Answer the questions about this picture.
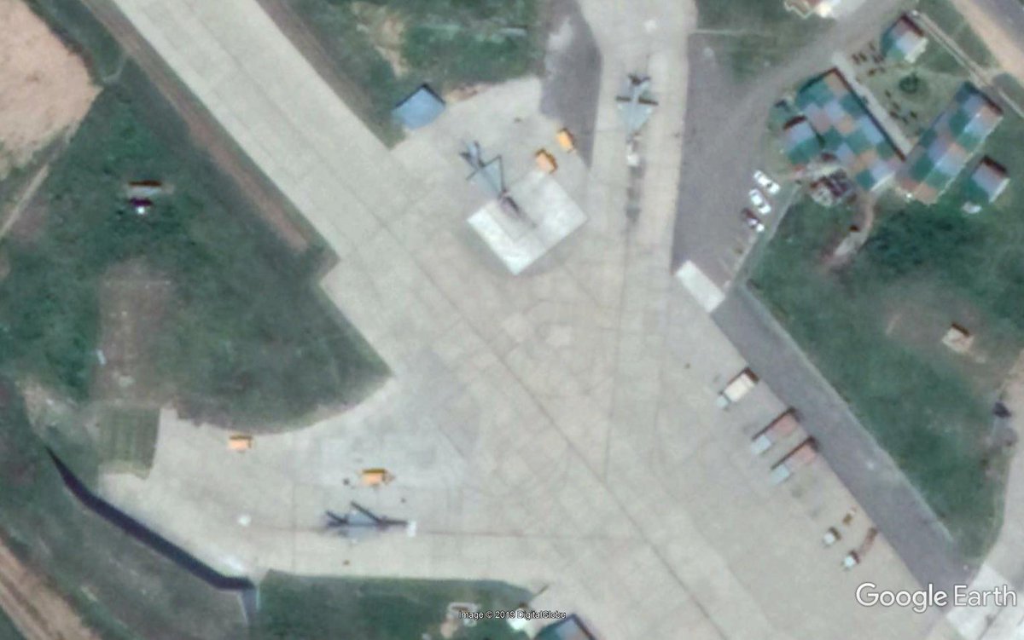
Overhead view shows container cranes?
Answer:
No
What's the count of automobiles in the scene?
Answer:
3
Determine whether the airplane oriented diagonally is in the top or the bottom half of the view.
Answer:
top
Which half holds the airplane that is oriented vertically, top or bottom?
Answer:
top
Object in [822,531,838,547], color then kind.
white work vehicle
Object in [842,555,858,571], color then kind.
white work vehicle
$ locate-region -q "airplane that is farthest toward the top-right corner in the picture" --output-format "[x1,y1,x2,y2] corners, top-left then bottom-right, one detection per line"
[614,81,654,165]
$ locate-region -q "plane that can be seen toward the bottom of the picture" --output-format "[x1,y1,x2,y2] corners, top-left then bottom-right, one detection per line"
[329,508,414,549]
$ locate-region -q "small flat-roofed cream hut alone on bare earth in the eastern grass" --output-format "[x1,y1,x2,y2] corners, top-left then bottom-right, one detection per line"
[943,326,973,354]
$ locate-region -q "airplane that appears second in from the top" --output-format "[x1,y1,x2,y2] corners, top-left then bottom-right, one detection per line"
[464,148,524,220]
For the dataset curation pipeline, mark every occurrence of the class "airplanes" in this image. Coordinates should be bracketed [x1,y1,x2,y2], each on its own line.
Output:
[464,148,524,220]
[614,81,654,165]
[329,508,414,549]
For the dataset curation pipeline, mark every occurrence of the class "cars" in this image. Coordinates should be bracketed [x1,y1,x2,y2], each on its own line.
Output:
[749,188,770,214]
[741,208,764,231]
[754,169,779,193]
